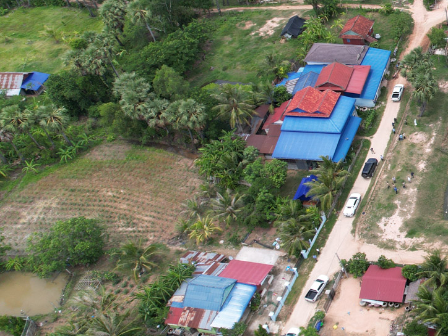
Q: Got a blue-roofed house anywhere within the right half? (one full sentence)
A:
Yes, a blue-roofed house appears within the right half.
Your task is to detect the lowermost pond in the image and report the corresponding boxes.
[0,272,67,317]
